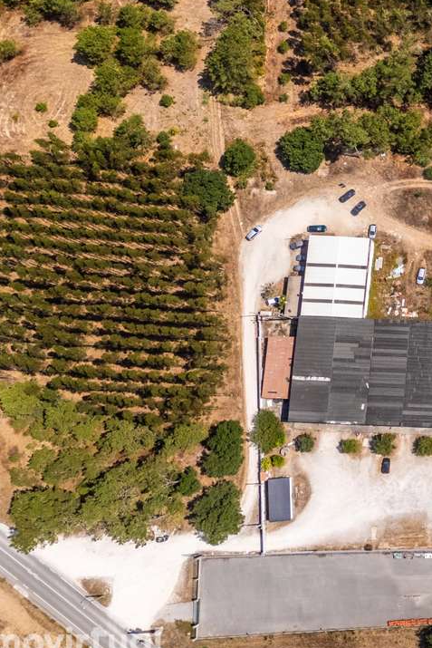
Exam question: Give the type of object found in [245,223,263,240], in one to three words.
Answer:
car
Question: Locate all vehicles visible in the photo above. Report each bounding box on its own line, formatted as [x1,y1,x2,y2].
[381,457,390,475]
[416,266,426,284]
[288,240,305,249]
[349,201,367,216]
[245,223,263,240]
[369,223,378,240]
[293,264,305,272]
[338,188,356,203]
[307,224,327,232]
[294,253,306,262]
